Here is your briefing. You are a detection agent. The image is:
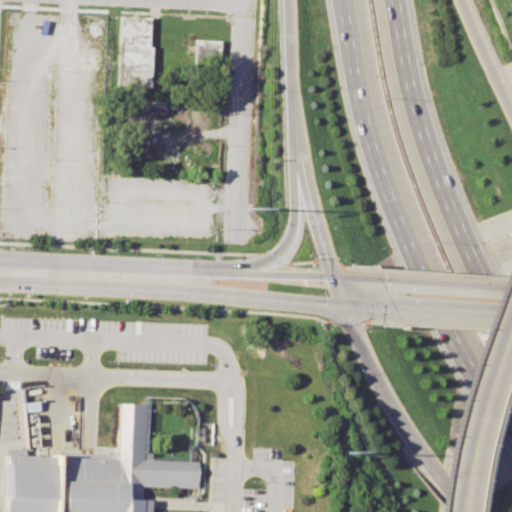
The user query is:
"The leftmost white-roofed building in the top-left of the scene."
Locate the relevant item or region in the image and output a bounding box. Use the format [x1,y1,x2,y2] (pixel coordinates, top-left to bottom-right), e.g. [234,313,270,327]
[120,17,158,91]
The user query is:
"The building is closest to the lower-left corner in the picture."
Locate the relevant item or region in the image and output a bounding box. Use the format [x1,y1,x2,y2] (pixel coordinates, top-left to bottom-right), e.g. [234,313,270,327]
[5,449,69,512]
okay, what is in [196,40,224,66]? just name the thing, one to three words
house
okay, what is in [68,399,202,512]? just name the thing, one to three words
building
